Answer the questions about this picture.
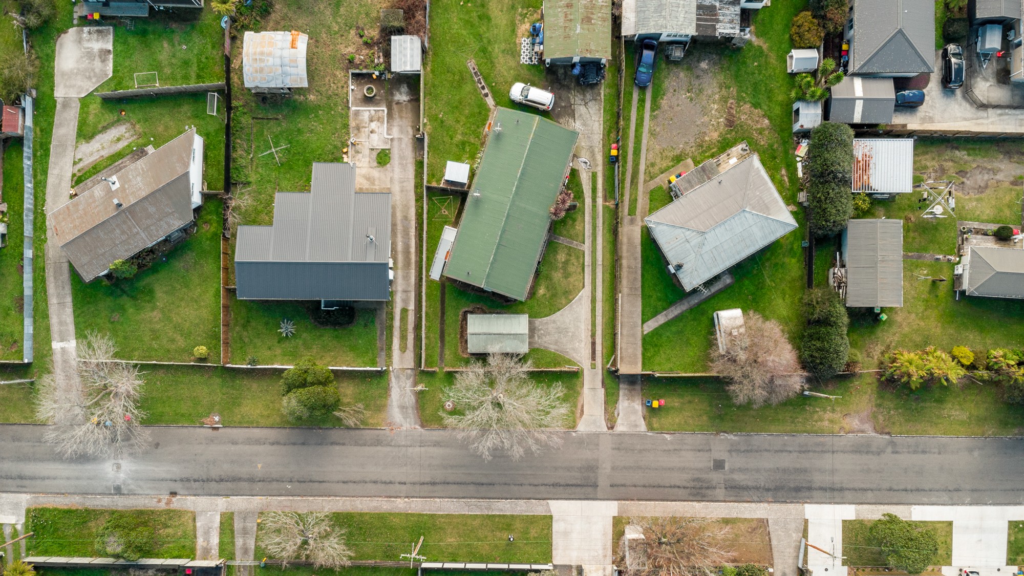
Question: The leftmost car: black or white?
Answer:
white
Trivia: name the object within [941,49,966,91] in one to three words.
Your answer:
car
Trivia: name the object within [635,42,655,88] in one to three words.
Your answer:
car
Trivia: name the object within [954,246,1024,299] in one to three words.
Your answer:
house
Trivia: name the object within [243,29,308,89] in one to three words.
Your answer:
shed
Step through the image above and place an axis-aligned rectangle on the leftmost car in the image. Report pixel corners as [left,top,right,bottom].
[511,84,555,111]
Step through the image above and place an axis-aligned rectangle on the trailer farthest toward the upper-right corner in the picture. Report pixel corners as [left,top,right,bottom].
[979,24,1006,68]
